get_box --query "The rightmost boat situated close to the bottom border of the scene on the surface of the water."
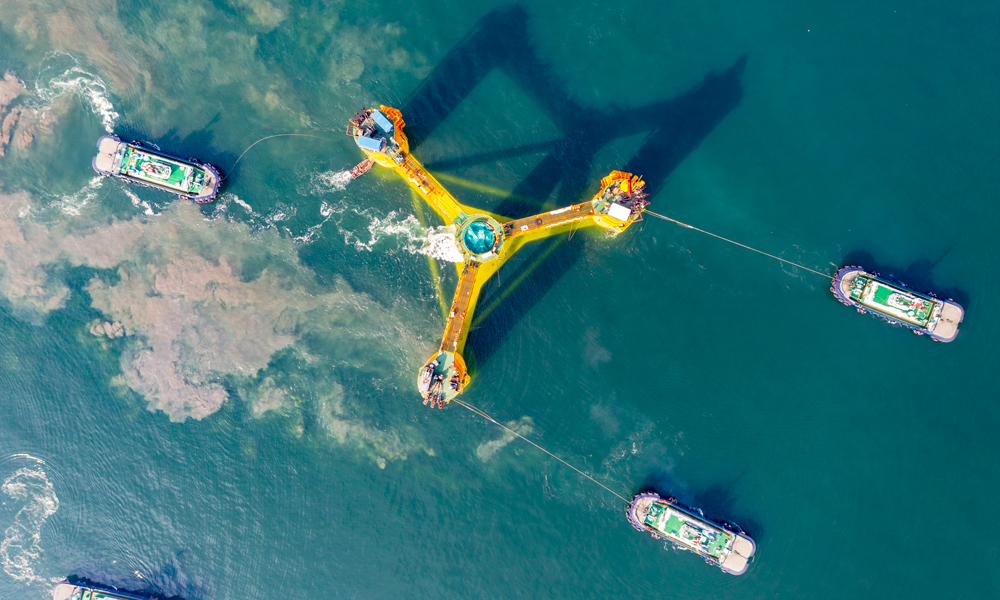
[625,496,754,577]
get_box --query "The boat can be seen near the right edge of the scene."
[827,268,962,341]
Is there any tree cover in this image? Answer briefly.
No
